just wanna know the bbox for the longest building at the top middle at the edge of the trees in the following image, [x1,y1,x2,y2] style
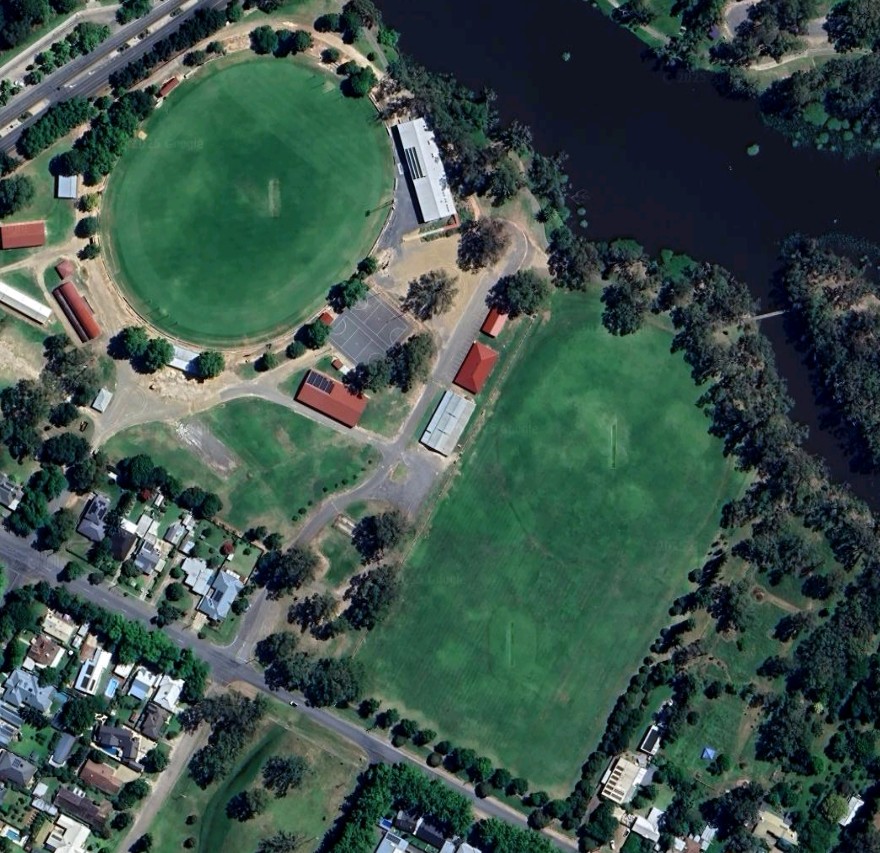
[397,116,455,222]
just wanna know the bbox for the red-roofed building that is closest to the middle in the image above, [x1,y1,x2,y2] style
[454,341,498,395]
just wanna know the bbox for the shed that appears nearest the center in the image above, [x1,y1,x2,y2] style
[422,390,476,459]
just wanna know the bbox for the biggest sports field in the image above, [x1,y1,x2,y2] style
[360,292,742,795]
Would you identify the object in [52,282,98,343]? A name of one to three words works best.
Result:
shed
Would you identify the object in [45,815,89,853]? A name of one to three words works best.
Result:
house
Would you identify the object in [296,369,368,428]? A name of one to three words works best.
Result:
building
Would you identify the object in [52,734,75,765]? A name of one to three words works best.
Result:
shed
